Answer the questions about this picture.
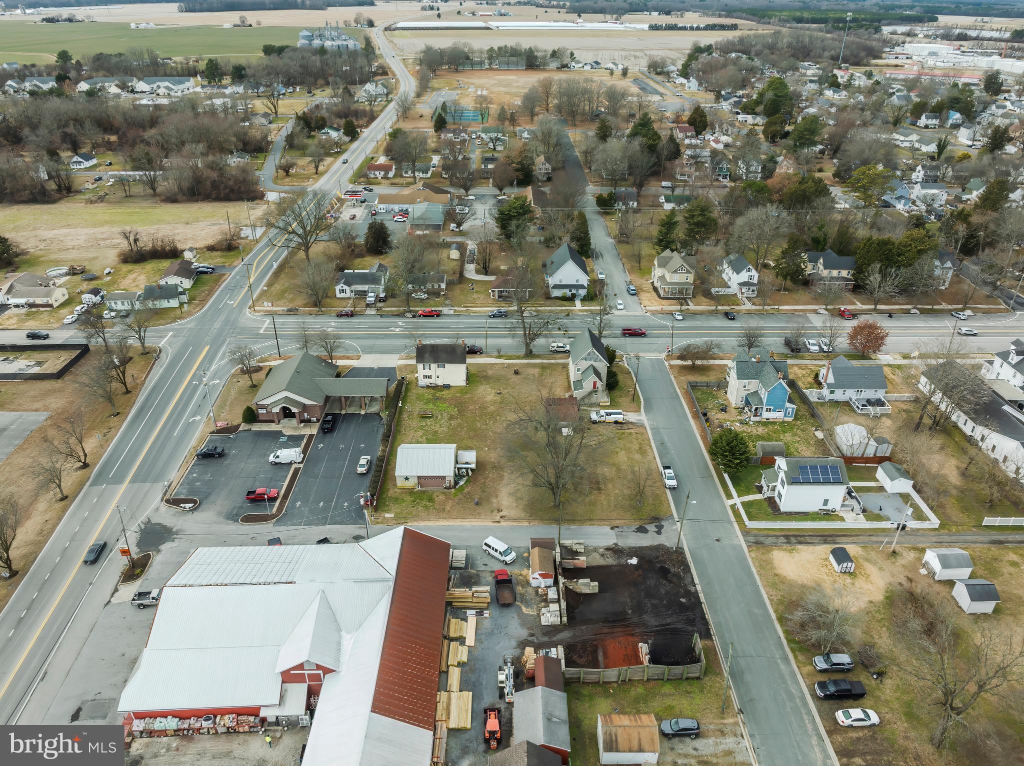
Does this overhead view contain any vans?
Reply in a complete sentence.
Yes, the frame does contain a van.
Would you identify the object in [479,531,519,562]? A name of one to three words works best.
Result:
van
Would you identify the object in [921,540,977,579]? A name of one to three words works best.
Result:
shed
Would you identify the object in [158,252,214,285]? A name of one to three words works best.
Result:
house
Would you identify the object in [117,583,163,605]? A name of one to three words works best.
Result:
truck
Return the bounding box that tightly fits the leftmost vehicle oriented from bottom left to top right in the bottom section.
[73,536,112,563]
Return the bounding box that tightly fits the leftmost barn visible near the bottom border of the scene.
[105,520,451,766]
